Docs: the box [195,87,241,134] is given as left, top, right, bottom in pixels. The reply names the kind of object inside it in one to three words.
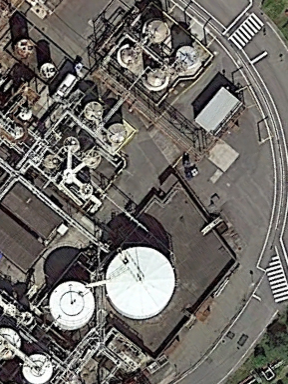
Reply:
building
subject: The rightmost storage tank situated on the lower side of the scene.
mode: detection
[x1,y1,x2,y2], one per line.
[106,247,176,322]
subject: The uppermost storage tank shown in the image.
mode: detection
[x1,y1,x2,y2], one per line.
[142,16,171,47]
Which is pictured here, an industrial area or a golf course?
industrial area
